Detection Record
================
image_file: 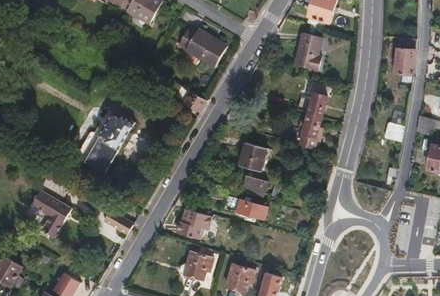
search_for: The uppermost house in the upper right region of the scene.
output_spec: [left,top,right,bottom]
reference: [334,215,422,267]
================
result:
[306,0,340,26]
